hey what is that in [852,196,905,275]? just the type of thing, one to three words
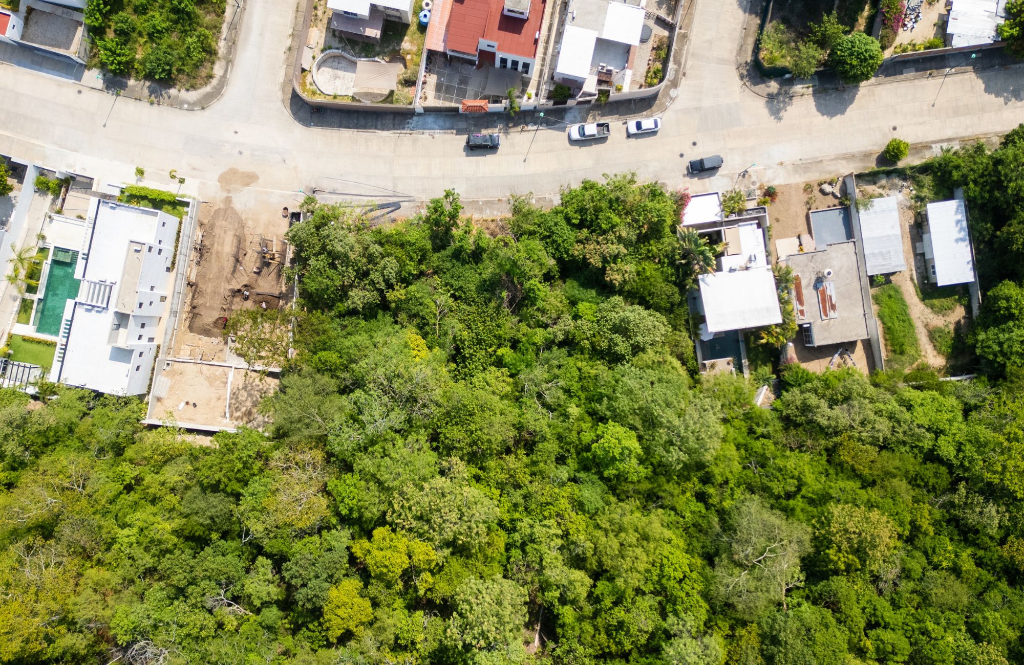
house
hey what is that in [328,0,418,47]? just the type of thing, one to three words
house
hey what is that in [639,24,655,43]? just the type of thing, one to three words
trampoline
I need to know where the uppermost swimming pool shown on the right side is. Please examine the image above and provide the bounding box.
[810,205,858,247]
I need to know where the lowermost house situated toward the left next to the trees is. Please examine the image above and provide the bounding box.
[49,199,180,395]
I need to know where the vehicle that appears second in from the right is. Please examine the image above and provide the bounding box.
[627,118,661,135]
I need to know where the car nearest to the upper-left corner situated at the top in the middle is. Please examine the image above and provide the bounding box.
[464,132,499,150]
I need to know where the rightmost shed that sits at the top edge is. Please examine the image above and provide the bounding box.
[936,0,1009,48]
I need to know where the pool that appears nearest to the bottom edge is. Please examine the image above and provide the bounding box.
[700,328,752,382]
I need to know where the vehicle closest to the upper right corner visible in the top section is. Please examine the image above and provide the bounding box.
[688,154,725,175]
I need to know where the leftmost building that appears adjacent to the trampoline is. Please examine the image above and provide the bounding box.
[554,0,646,99]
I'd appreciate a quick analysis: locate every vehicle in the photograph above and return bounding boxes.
[569,122,610,141]
[464,132,499,150]
[688,154,725,175]
[627,118,661,135]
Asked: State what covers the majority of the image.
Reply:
trees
